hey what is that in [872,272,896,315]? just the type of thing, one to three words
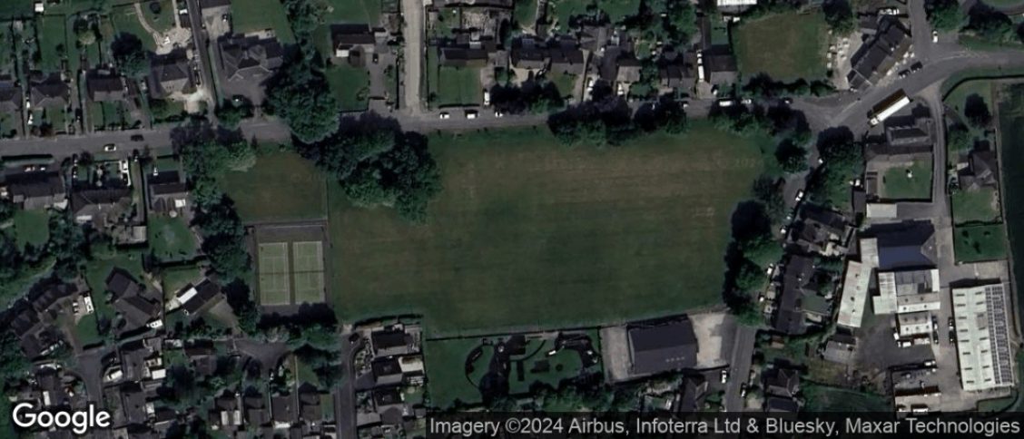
shed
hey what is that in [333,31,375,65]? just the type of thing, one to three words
house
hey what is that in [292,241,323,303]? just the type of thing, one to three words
tennis court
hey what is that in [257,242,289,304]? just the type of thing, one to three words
tennis court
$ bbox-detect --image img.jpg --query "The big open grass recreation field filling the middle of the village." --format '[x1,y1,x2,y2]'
[327,117,804,338]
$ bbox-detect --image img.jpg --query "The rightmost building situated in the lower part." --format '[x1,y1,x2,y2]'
[953,282,1017,392]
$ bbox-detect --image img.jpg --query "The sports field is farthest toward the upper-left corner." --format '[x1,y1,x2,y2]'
[225,136,327,224]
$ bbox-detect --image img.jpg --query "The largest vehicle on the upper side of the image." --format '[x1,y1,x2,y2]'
[871,97,911,124]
